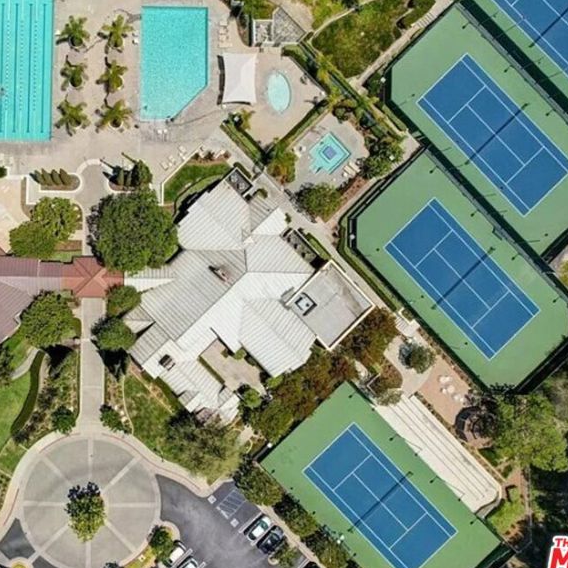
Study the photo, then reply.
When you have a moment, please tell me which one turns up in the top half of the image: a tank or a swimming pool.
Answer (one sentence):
It is a swimming pool that can be seen in the top half of the image.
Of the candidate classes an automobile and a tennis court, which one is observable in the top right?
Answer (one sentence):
Looking in the top right, you will find a tennis court.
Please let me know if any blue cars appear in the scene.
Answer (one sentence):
No, the scene contains no blue car.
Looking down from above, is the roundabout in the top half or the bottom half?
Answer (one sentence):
It is in the bottom half that the roundabout appears.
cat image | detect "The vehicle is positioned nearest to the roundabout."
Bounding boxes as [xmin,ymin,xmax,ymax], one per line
[162,540,189,568]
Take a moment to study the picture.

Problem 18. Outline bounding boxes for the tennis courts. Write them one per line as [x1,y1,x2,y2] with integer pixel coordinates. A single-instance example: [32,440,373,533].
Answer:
[473,0,568,102]
[267,388,501,568]
[389,5,568,250]
[364,151,568,391]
